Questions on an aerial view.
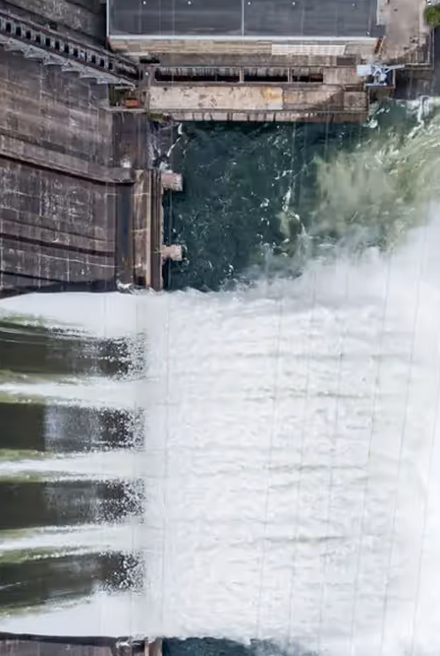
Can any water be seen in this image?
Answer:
Yes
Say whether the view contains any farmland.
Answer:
No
